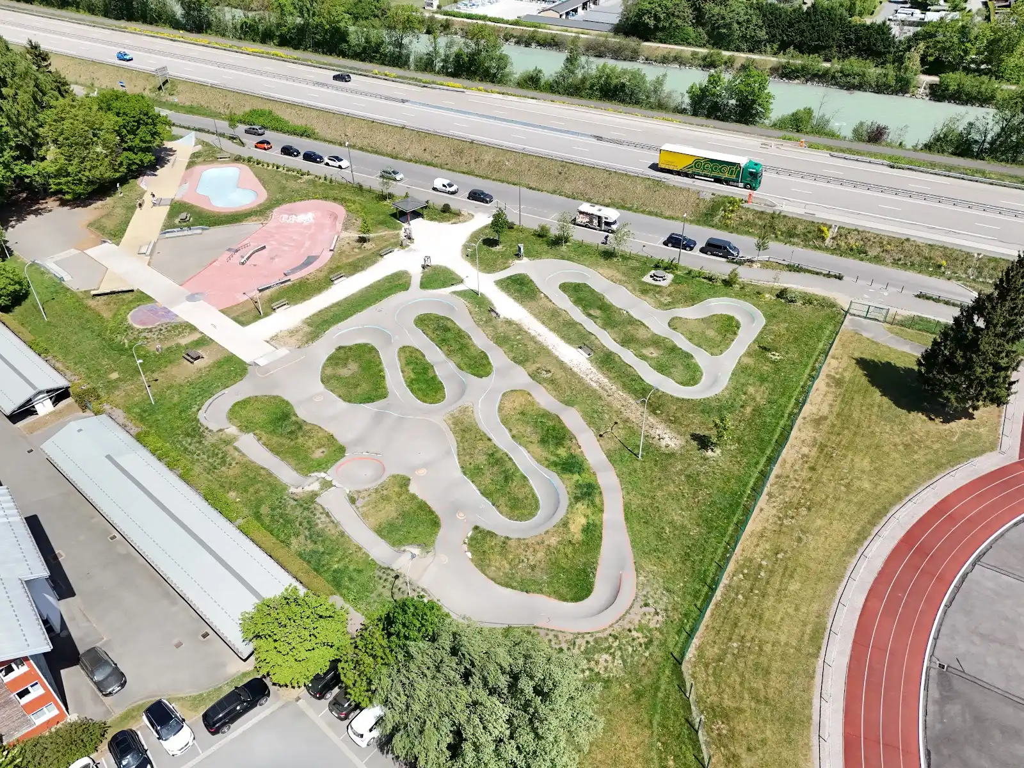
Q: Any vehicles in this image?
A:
Yes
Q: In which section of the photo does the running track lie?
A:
bottom right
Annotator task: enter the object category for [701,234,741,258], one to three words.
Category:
vehicle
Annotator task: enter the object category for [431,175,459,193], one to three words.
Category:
vehicle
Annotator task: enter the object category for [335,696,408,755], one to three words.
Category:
car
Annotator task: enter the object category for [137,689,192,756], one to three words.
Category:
car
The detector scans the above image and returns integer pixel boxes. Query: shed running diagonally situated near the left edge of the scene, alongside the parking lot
[38,414,305,670]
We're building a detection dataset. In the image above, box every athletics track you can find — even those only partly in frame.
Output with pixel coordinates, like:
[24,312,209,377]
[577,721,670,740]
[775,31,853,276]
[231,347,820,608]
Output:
[842,414,1024,768]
